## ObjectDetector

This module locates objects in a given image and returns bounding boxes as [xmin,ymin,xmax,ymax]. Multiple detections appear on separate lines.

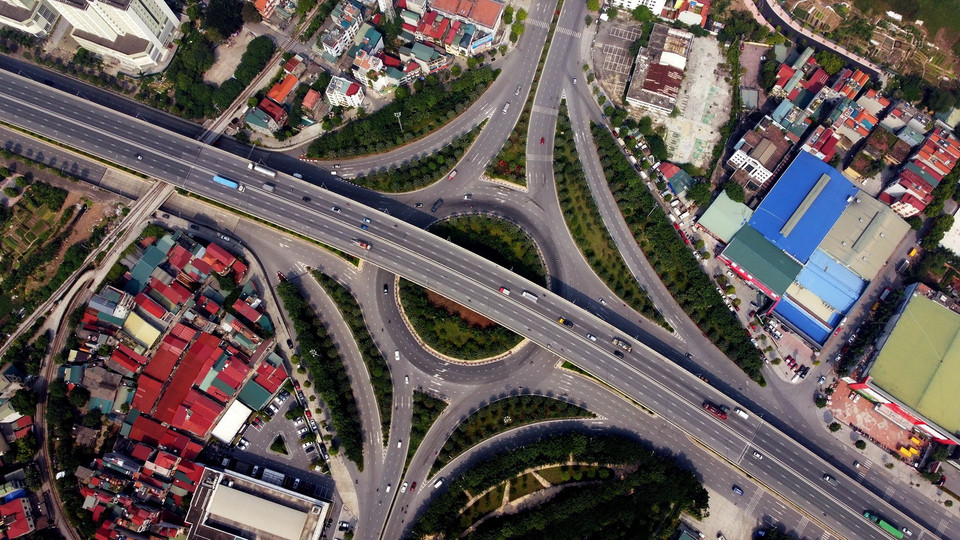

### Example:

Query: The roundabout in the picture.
[377,198,567,384]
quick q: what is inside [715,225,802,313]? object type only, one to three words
building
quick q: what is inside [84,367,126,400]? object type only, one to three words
house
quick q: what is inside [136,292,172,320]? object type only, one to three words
house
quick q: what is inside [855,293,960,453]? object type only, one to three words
building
